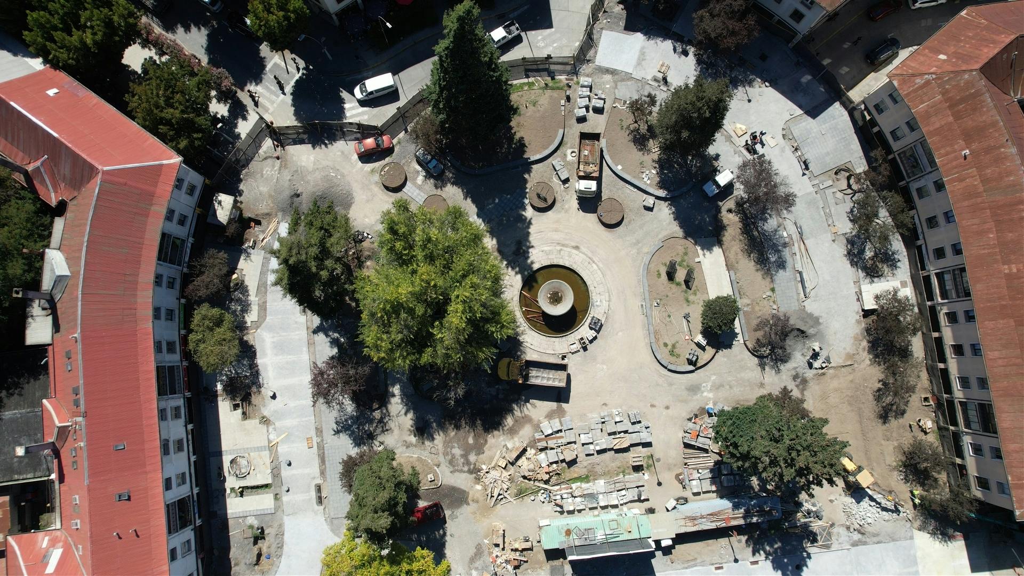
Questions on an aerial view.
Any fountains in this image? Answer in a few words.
Yes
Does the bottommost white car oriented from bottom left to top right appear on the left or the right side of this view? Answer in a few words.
right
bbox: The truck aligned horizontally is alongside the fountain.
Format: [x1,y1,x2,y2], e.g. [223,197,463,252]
[497,356,571,387]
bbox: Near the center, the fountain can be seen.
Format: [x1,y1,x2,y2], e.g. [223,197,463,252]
[518,263,592,337]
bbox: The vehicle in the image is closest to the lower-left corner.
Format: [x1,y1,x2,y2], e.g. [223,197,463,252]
[404,502,450,529]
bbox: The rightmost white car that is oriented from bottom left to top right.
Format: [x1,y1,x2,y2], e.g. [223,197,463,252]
[704,165,740,196]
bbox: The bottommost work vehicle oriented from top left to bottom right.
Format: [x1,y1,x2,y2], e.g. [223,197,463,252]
[832,440,908,510]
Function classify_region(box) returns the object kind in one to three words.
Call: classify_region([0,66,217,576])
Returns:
building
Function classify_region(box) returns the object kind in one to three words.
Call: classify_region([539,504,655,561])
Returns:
shed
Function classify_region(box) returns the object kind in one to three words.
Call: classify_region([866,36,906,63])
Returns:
car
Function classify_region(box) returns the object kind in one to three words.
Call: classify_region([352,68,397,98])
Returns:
van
